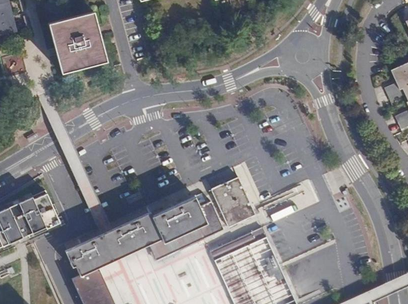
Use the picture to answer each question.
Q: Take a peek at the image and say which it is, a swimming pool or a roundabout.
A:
roundabout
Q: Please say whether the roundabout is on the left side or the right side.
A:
right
